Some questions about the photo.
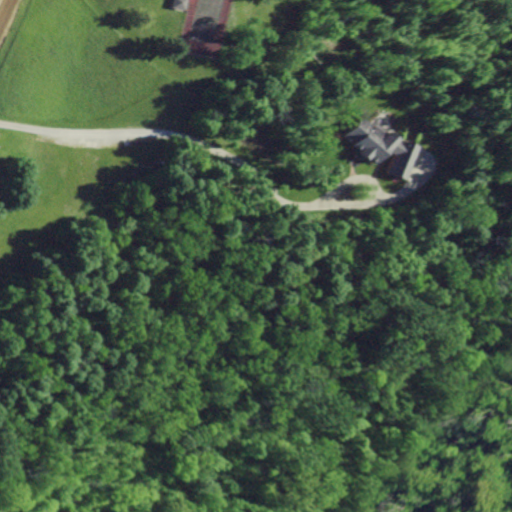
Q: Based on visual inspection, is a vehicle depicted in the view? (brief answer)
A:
No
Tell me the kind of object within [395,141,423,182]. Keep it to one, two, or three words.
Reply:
building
